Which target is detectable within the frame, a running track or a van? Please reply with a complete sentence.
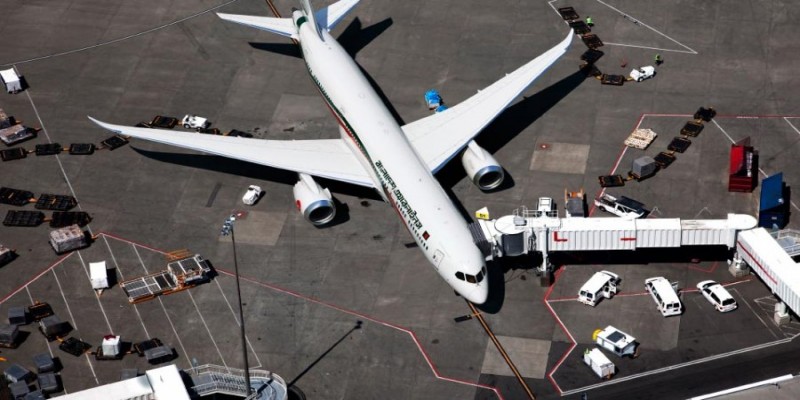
The one in the frame is a van.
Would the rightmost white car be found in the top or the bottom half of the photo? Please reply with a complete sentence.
You can find the rightmost white car in the bottom half.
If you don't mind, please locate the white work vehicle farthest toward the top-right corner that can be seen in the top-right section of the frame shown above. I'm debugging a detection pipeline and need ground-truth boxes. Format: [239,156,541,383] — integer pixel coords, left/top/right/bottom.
[629,63,657,81]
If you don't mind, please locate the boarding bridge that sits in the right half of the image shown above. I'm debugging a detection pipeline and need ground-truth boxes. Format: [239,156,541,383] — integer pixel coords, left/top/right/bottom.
[471,203,764,286]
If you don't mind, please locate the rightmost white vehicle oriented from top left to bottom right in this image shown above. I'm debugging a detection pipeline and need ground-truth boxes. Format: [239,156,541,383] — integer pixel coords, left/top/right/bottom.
[695,281,738,315]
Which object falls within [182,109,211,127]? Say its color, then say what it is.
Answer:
white work vehicle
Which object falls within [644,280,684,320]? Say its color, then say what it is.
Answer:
white van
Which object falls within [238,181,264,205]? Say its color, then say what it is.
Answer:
white car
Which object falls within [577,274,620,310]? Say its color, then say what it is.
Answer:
white van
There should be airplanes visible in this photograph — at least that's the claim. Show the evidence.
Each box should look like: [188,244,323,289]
[88,0,573,303]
